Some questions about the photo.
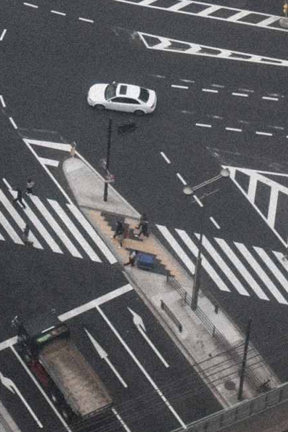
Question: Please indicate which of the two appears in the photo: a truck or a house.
truck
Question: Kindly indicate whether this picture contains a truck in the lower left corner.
Yes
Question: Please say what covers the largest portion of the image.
paved ground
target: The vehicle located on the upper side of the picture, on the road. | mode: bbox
[85,78,161,117]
